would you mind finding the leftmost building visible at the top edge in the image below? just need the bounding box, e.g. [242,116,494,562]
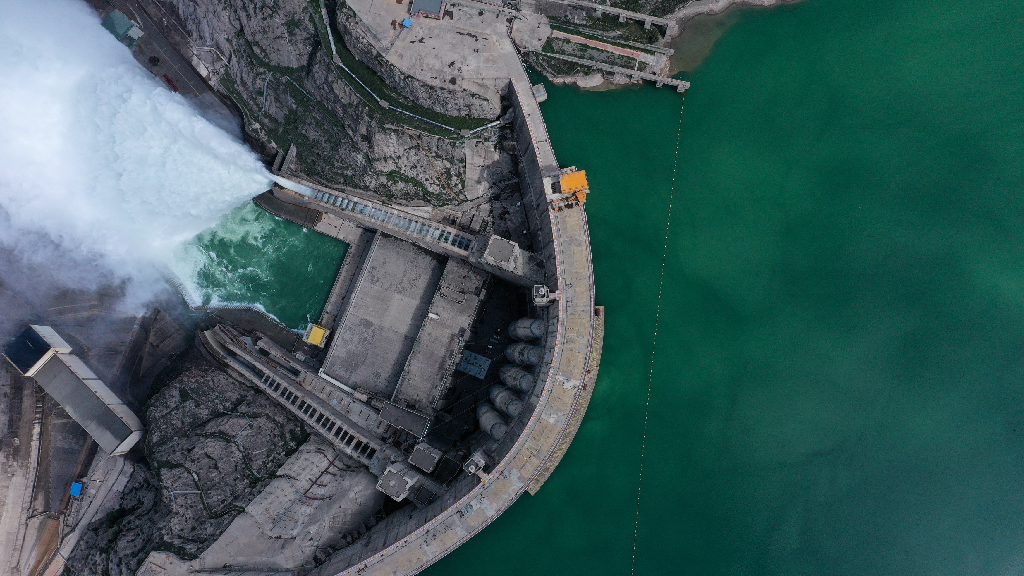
[105,9,145,47]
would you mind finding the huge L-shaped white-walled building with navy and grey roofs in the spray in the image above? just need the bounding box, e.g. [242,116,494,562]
[2,325,144,454]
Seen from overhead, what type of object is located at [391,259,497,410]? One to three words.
building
